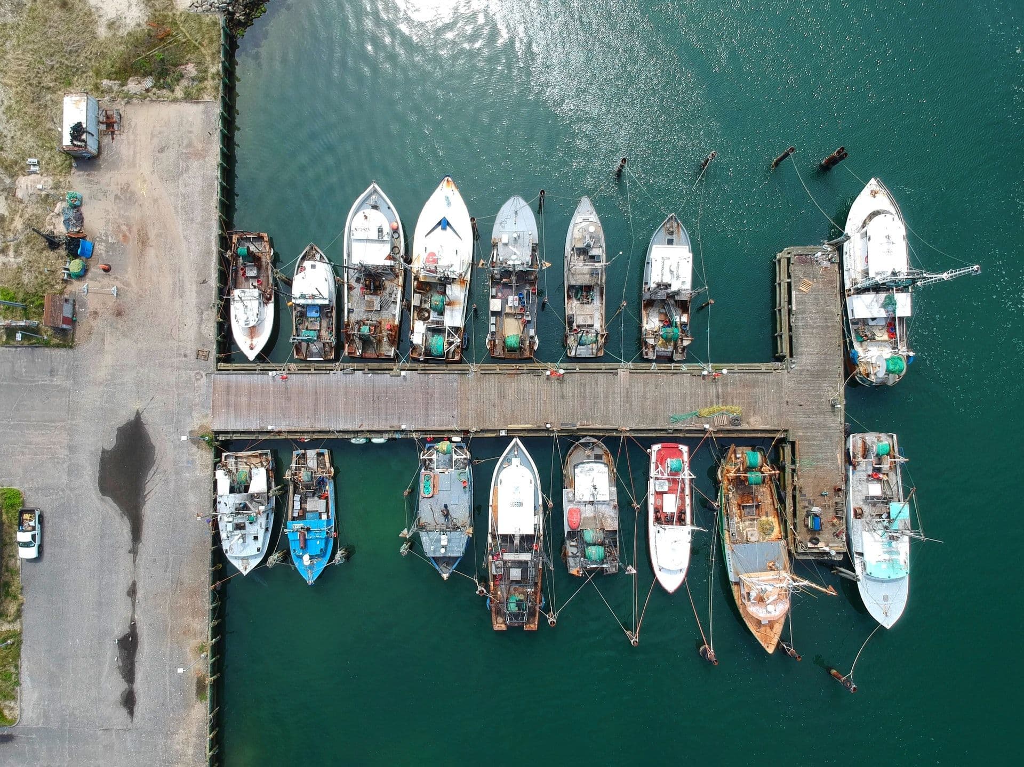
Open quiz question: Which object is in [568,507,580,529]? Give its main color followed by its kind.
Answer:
red boat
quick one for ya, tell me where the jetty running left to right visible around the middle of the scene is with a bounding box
[213,247,847,559]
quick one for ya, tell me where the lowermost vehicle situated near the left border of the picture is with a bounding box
[16,506,43,559]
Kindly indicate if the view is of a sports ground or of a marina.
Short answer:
marina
